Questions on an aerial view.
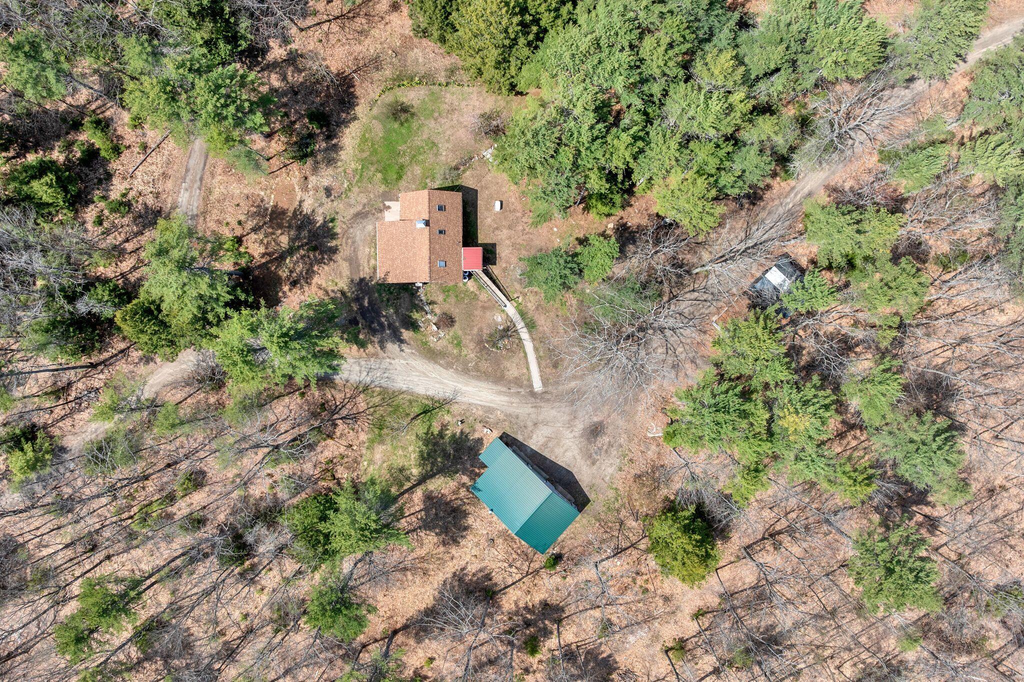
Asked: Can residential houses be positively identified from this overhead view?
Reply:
Yes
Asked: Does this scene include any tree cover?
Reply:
Yes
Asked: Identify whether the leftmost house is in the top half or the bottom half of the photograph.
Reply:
top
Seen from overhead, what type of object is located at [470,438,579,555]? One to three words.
building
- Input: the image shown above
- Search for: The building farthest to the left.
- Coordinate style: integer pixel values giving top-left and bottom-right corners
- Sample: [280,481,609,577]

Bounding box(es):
[377,188,483,284]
